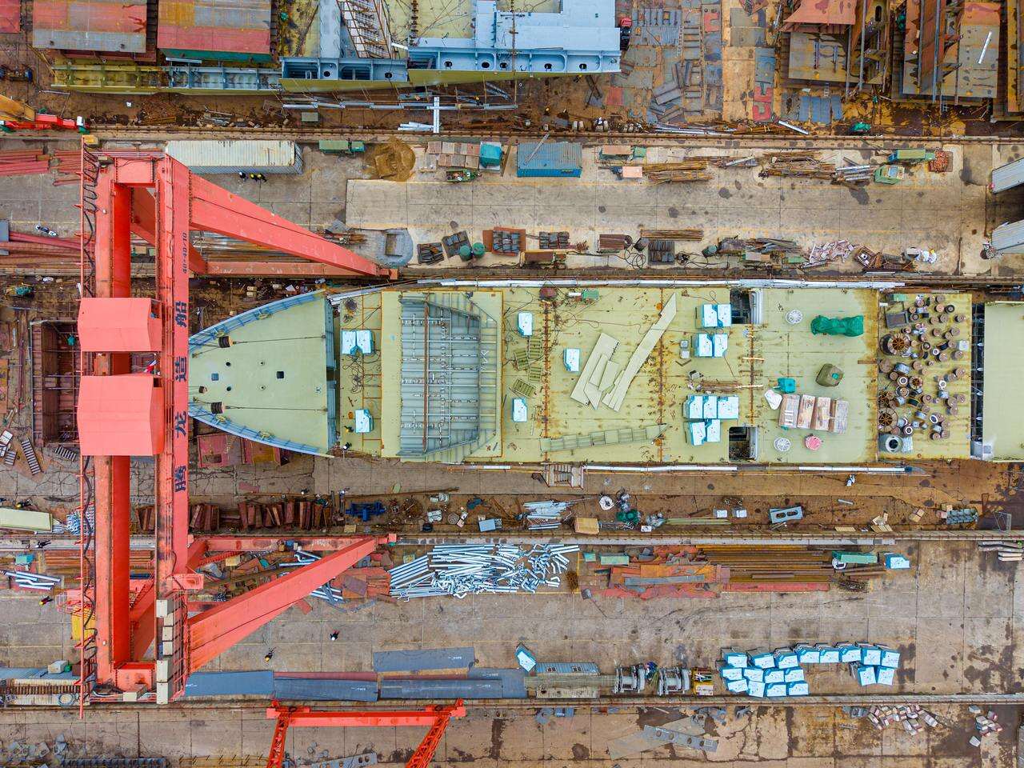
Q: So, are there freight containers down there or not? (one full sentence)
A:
Yes, you can see a freight container in this photo.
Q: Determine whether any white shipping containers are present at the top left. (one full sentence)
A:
Yes, a white shipping container appears at the top left.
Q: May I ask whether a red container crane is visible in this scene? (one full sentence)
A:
Yes, a red container crane is visible in the scene.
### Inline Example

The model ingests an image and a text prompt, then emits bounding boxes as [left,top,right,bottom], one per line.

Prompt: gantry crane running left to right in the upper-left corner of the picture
[0,95,95,136]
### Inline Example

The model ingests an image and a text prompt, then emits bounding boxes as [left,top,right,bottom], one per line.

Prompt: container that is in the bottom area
[0,505,65,530]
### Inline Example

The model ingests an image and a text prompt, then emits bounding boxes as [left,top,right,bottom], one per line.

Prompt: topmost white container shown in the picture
[167,141,303,174]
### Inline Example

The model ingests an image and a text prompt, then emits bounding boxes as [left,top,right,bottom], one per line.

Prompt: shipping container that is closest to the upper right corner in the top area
[517,143,582,176]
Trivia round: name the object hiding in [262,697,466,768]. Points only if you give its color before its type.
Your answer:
red container crane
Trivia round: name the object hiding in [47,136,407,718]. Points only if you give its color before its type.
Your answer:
red container crane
